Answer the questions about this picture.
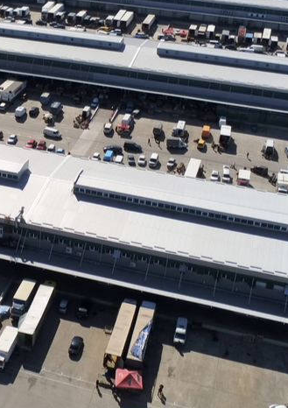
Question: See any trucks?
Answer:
Yes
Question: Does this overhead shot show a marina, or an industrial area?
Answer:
industrial area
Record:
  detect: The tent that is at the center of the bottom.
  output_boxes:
[113,371,143,400]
